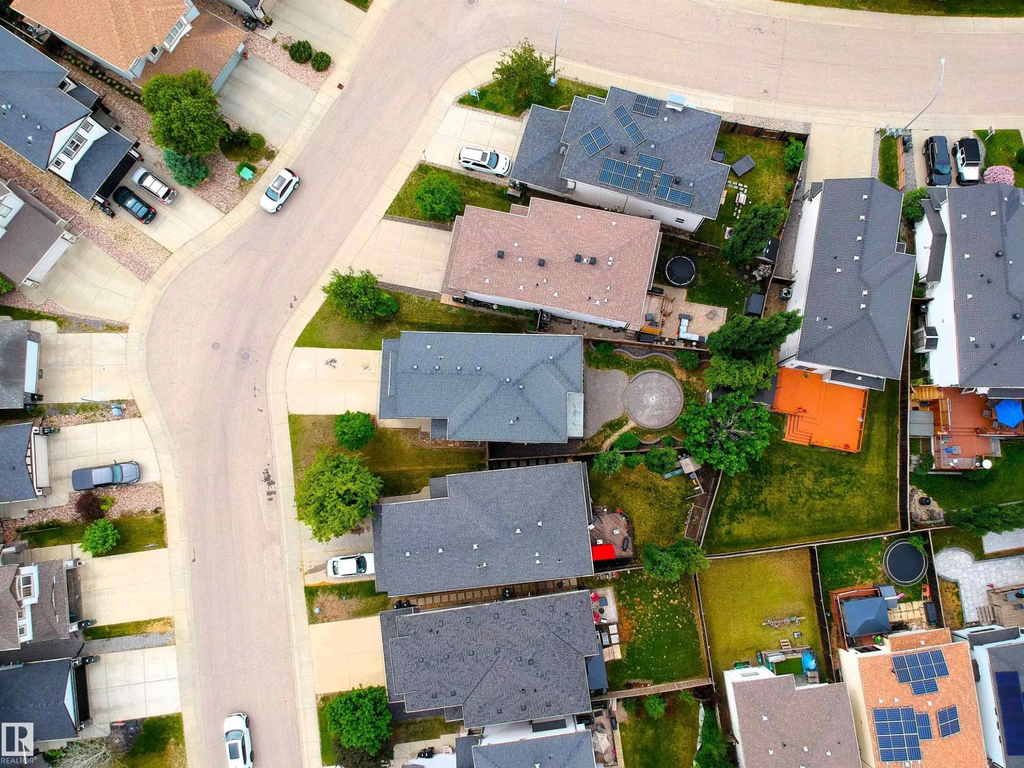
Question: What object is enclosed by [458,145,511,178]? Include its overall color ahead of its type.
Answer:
white car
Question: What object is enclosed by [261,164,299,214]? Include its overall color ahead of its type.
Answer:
white car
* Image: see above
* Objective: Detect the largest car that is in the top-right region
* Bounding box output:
[923,132,953,187]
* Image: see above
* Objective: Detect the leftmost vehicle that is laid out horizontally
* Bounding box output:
[69,460,141,491]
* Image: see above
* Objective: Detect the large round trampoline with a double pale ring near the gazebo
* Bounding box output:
[878,539,928,586]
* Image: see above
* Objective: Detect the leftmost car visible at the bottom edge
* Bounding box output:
[221,711,254,768]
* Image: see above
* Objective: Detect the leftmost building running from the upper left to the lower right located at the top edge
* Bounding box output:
[0,20,141,204]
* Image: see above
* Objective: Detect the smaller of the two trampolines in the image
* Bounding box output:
[662,255,697,289]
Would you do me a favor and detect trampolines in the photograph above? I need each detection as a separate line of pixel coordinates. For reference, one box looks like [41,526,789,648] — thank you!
[662,255,697,289]
[878,539,928,586]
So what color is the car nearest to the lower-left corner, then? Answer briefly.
white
